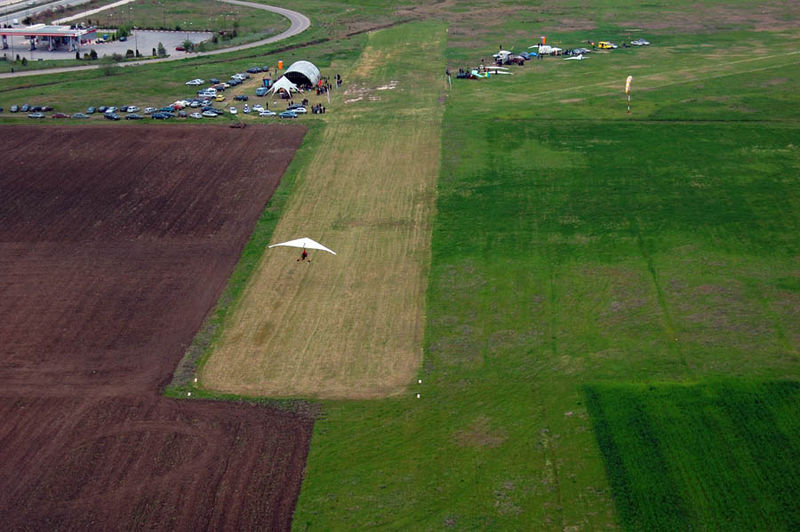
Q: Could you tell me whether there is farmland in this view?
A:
Yes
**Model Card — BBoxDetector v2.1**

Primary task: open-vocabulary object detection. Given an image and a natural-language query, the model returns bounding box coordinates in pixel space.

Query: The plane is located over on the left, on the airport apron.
[269,237,338,261]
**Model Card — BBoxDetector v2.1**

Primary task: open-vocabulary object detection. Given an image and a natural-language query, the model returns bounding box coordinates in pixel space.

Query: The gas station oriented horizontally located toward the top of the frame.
[0,23,101,52]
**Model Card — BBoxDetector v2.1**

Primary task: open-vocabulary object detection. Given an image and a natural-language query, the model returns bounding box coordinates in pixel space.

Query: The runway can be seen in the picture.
[191,20,448,400]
